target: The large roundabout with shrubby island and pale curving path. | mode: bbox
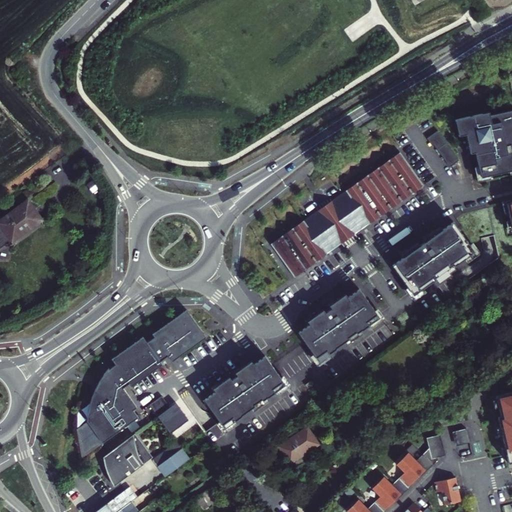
[130,194,223,290]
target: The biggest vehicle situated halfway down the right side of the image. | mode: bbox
[388,228,412,246]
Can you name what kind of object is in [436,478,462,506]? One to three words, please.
house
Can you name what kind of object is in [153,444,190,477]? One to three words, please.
shed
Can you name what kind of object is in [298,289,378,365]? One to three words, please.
building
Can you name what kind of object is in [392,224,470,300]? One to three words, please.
building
